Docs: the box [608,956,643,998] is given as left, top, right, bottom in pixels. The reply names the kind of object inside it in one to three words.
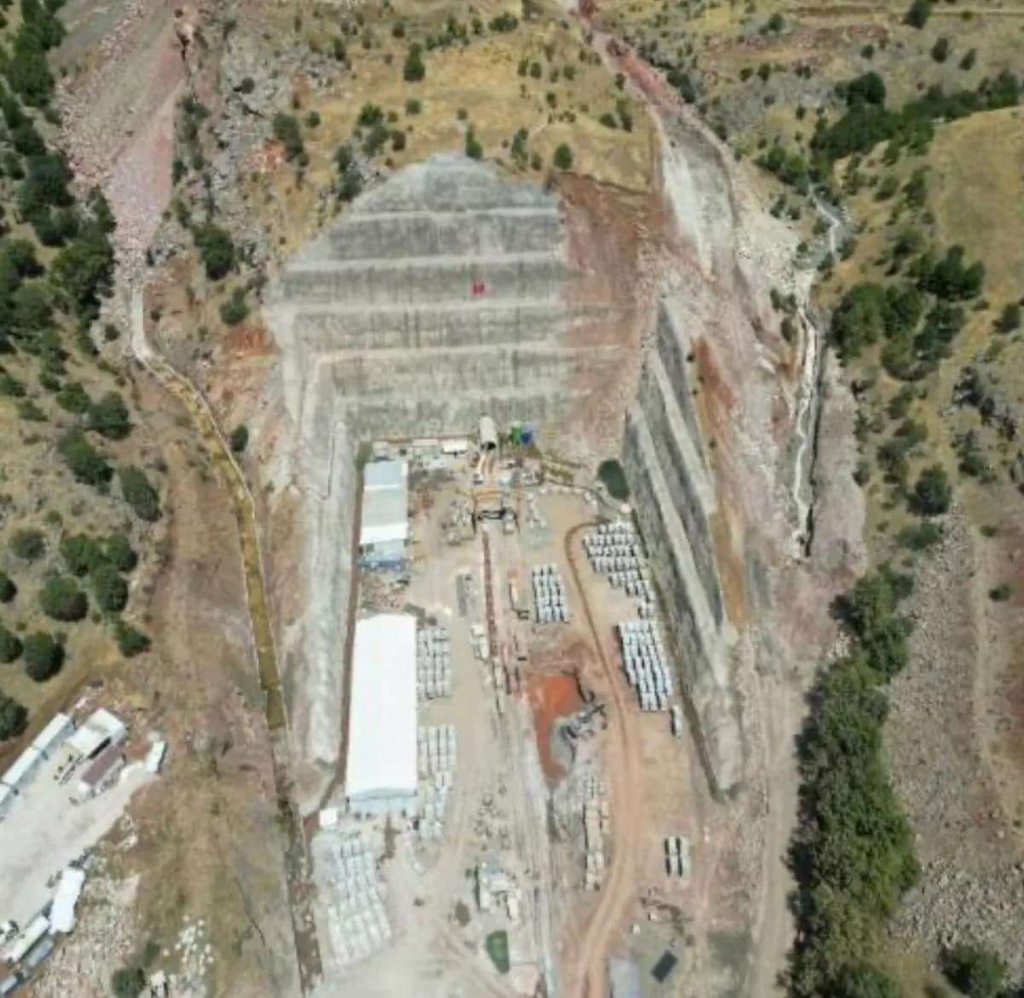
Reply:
shed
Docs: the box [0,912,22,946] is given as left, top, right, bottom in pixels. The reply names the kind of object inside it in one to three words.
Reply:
truck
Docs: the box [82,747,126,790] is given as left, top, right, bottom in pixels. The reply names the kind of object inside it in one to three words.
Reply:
building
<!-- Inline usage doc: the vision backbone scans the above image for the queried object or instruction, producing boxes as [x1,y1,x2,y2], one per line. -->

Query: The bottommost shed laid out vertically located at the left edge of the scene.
[48,866,90,938]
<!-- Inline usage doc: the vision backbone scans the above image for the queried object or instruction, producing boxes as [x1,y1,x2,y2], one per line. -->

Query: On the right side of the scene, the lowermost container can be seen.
[652,951,677,984]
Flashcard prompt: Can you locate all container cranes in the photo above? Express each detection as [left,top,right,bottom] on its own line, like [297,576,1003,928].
[466,492,521,532]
